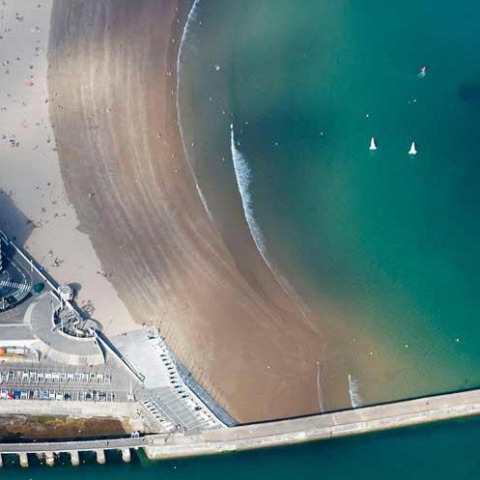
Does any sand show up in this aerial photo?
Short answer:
Yes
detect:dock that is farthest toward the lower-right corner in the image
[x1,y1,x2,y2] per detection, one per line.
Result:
[143,388,480,460]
